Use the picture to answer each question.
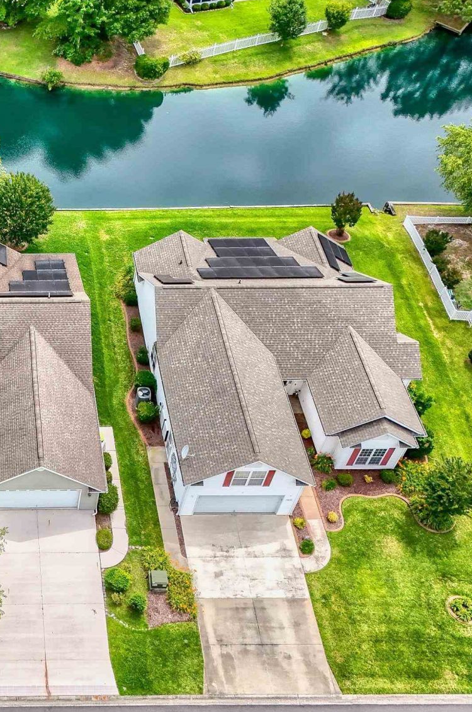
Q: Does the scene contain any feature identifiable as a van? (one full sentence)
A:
No, the picture doesn't show any van.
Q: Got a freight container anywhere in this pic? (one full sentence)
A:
No, the photo shows no freight container.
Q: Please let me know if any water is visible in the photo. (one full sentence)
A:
Yes, water can be seen from above here.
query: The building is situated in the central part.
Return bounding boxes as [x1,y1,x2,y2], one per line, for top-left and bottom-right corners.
[131,226,427,521]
